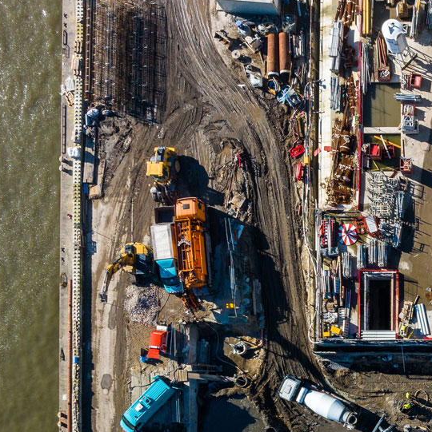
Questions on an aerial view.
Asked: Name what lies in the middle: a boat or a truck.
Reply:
truck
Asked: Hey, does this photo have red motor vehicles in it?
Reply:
Yes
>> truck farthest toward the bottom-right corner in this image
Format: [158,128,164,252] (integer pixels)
[269,371,358,432]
